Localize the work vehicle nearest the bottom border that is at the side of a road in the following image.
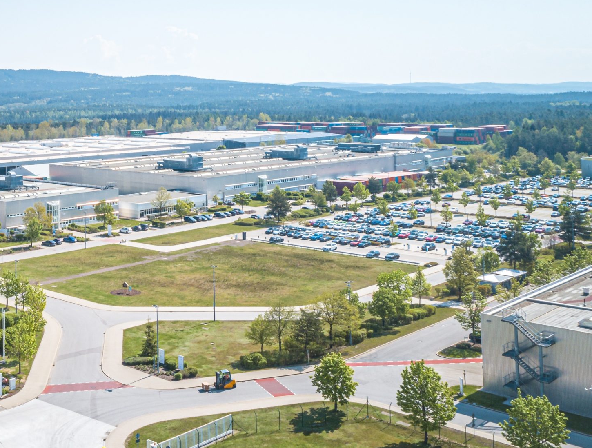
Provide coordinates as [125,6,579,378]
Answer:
[213,369,237,392]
